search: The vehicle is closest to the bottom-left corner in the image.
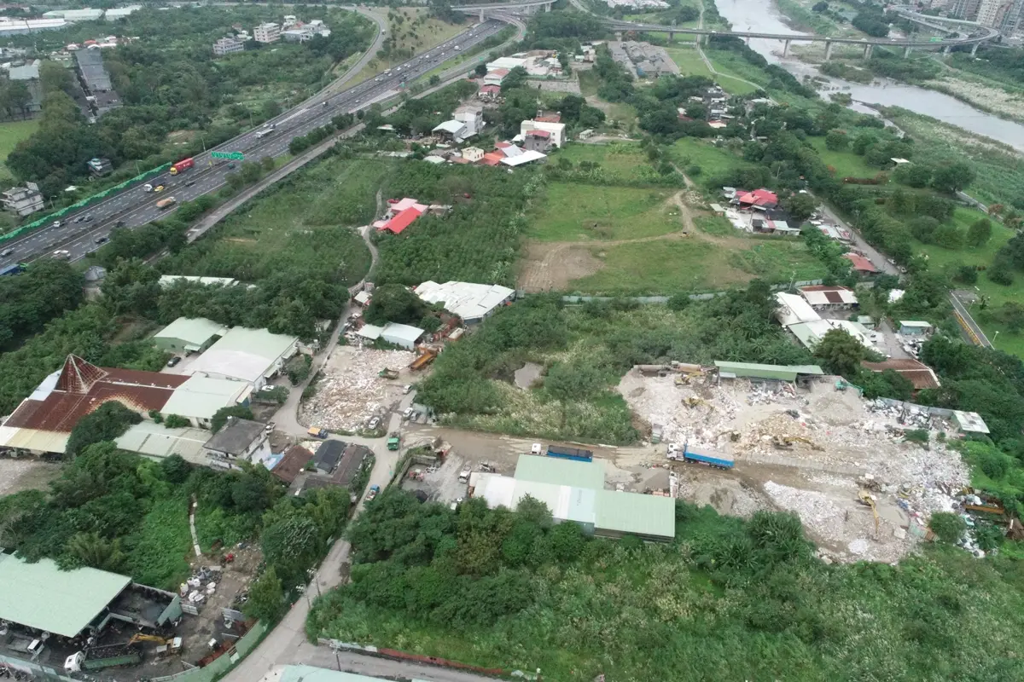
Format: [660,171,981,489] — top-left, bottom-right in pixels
[12,626,45,661]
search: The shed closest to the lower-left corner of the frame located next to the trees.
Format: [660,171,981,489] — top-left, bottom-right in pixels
[0,550,139,650]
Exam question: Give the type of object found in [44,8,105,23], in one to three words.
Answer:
building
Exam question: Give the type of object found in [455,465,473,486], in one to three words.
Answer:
vehicle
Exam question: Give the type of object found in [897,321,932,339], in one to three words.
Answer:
shed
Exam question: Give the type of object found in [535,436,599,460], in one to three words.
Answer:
truck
